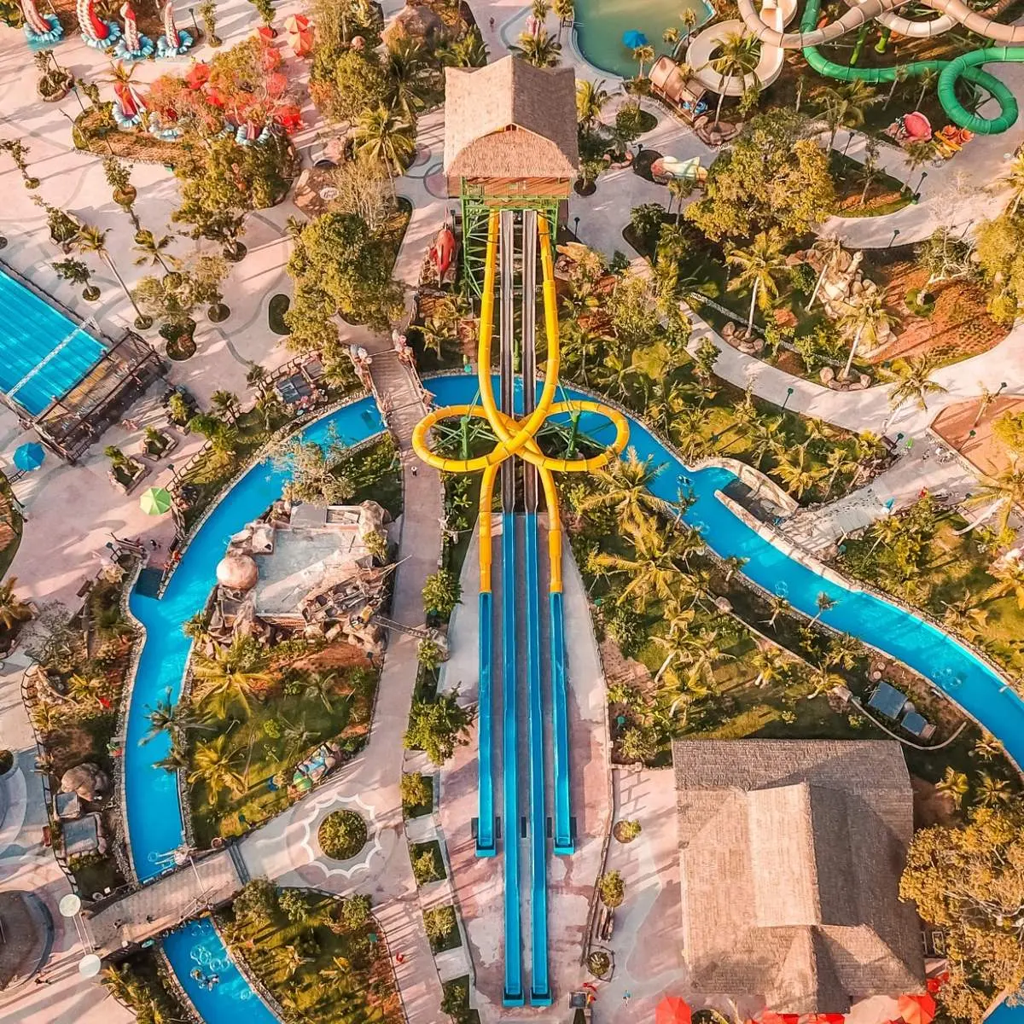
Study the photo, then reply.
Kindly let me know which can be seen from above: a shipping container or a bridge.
bridge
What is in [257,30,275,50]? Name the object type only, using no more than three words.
umbrella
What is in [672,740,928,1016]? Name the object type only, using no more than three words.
building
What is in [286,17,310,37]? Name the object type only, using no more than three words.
umbrella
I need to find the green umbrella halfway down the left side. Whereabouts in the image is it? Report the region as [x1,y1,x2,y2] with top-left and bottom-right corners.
[141,489,171,516]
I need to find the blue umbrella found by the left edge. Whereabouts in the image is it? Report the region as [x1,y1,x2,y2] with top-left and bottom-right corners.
[14,445,46,473]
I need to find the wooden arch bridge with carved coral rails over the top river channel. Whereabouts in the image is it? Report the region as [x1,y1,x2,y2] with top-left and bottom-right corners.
[360,336,436,452]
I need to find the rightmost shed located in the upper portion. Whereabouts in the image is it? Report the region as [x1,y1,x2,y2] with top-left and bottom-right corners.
[643,45,707,128]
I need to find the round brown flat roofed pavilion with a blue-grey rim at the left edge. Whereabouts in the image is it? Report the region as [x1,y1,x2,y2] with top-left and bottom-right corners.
[0,884,55,999]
